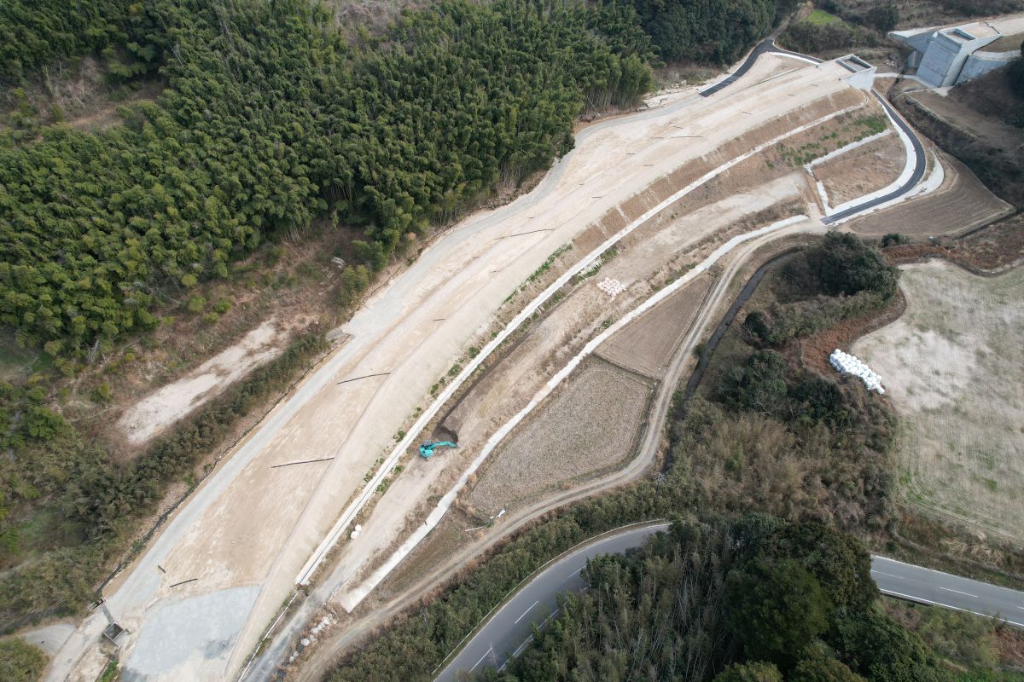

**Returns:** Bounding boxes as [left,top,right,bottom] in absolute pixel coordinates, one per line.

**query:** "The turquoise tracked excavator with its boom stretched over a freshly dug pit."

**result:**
[419,438,457,458]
